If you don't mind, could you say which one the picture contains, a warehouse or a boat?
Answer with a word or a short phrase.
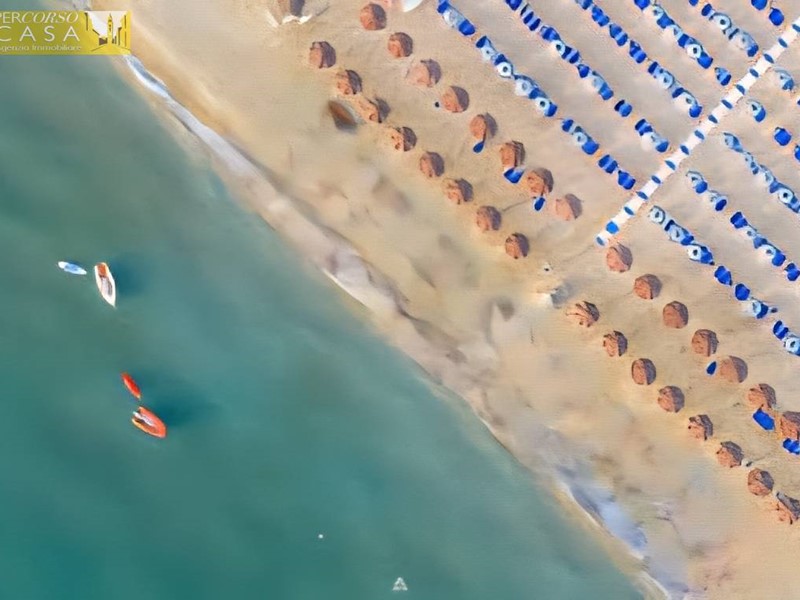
boat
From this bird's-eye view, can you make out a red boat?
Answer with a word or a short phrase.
Yes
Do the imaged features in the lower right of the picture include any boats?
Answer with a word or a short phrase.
No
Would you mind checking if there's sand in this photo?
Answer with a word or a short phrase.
Yes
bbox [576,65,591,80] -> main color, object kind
blue umbrella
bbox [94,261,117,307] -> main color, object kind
white boat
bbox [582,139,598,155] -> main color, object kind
blue umbrella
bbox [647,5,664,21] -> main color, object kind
white umbrella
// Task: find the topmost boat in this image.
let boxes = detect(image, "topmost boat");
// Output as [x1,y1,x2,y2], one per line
[330,101,356,129]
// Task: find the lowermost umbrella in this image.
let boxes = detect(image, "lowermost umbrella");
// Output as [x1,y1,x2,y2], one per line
[774,498,798,522]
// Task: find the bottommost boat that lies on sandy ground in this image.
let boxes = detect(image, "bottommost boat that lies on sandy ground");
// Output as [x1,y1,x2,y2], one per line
[132,408,169,439]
